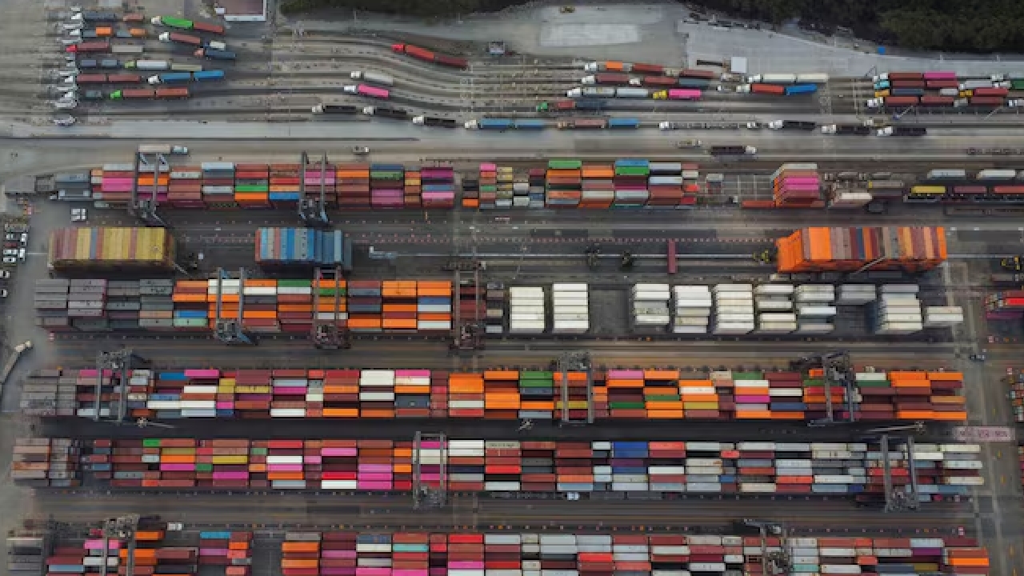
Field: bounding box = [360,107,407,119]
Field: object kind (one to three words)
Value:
vehicle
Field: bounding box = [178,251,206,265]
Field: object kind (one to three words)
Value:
work vehicle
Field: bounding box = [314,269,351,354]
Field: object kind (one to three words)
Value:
container crane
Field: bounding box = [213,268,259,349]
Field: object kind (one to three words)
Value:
container crane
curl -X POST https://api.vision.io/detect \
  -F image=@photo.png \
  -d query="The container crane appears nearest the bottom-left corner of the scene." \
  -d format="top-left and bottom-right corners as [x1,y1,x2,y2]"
[100,513,162,576]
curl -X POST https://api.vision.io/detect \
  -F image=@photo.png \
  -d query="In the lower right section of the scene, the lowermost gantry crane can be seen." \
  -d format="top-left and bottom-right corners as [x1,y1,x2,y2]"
[729,518,791,576]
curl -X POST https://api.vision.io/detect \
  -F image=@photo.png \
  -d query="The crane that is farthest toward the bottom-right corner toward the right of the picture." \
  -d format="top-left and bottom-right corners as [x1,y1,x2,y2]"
[846,437,922,511]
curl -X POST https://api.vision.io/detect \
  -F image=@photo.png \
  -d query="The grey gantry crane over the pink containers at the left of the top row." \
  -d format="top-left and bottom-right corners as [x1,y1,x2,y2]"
[131,151,181,234]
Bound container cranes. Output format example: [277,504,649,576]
[729,518,791,576]
[314,269,351,354]
[301,151,333,231]
[796,352,868,424]
[550,353,594,425]
[100,513,162,576]
[131,151,181,234]
[213,268,259,349]
[846,437,922,511]
[91,351,153,423]
[413,433,449,508]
